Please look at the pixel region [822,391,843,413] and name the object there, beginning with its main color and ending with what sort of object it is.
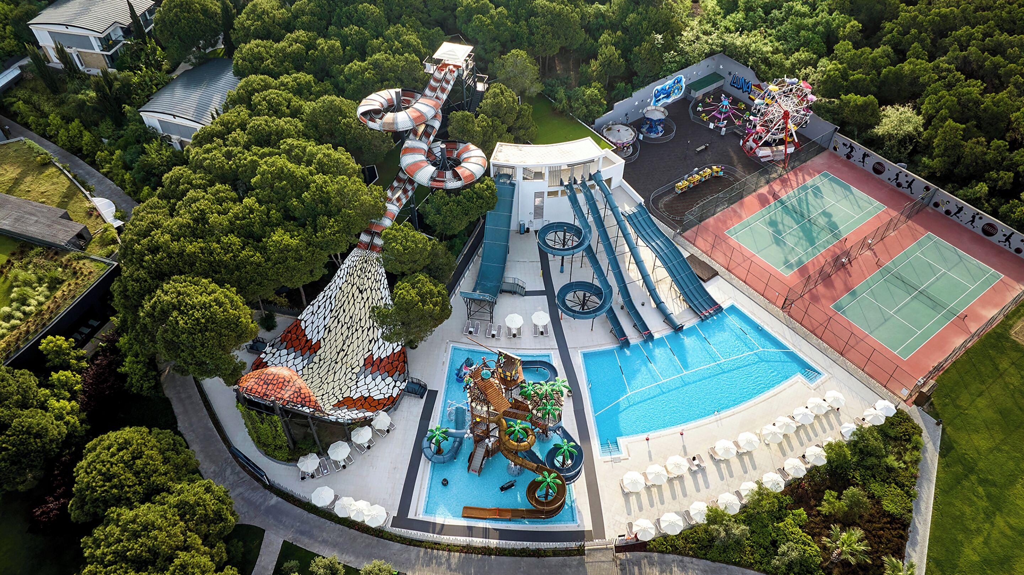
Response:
white umbrella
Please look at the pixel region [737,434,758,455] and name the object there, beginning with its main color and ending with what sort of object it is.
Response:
white umbrella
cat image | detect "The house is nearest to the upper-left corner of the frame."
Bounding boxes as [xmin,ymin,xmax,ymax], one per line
[22,0,148,74]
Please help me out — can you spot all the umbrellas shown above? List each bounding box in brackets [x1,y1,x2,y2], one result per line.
[792,408,814,429]
[630,520,654,543]
[330,442,353,465]
[532,313,550,333]
[334,497,356,520]
[313,488,336,510]
[822,391,843,413]
[760,474,783,496]
[664,457,686,480]
[645,466,667,488]
[349,502,370,525]
[364,506,386,529]
[804,399,827,417]
[716,493,739,515]
[505,316,524,335]
[737,434,758,455]
[620,475,643,497]
[860,409,883,430]
[299,455,322,477]
[372,415,393,437]
[734,480,758,503]
[689,502,712,525]
[714,441,736,463]
[657,514,681,537]
[803,447,826,469]
[872,401,895,419]
[784,459,807,482]
[772,417,795,437]
[834,423,857,443]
